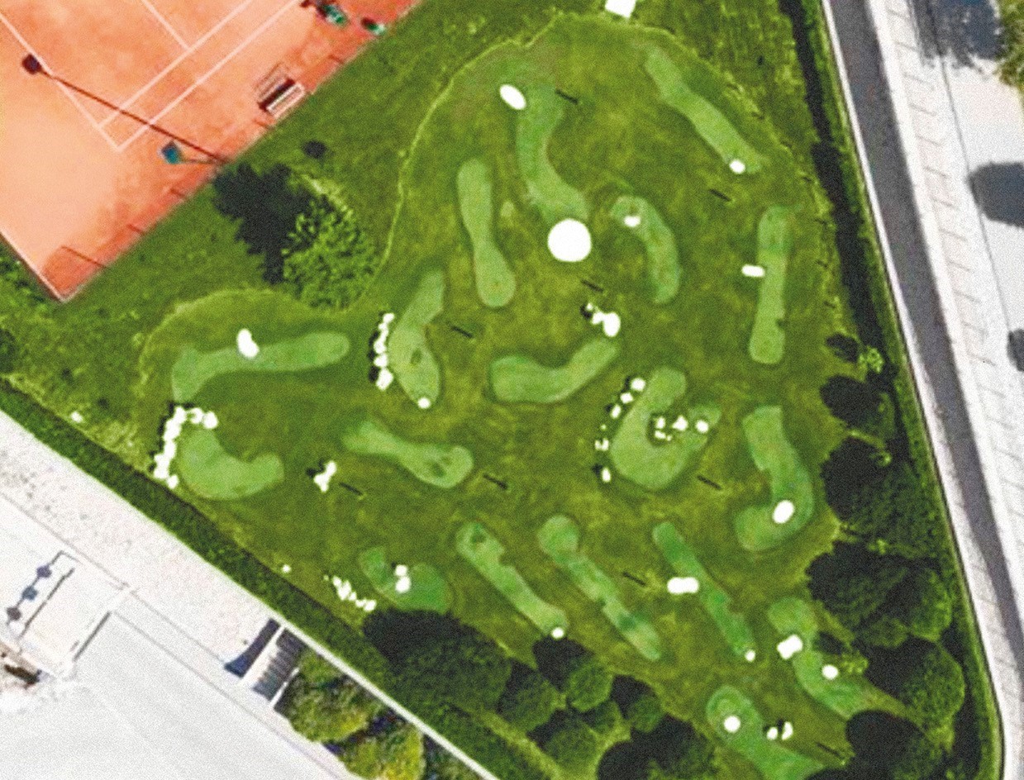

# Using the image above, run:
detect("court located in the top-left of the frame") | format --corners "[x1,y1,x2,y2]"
[0,0,423,303]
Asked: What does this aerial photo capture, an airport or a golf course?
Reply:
golf course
